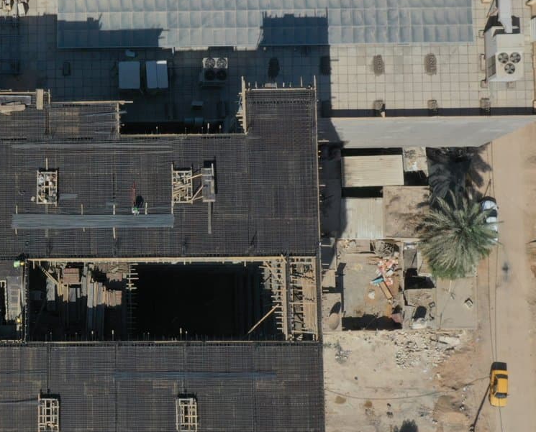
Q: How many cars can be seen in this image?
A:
two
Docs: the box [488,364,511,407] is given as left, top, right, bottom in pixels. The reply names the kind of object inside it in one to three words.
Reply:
car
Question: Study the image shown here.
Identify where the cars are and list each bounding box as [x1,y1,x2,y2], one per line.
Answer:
[488,364,511,407]
[479,197,501,237]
